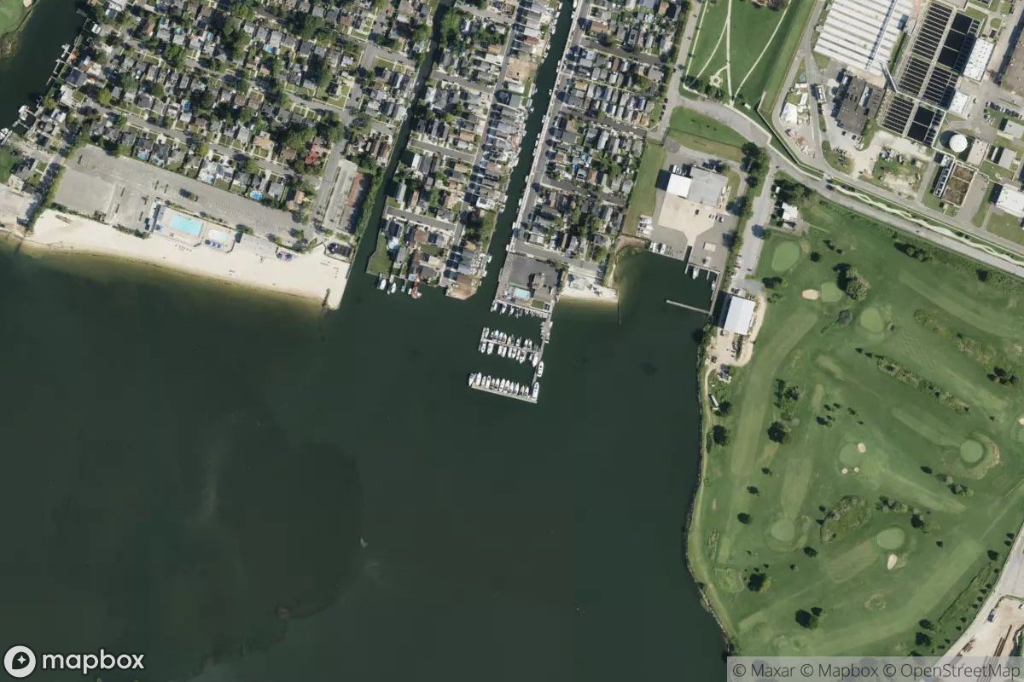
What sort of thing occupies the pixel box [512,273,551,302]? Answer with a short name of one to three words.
building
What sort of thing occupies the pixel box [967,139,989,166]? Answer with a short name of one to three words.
building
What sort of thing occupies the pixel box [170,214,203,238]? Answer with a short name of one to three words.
swimming pool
